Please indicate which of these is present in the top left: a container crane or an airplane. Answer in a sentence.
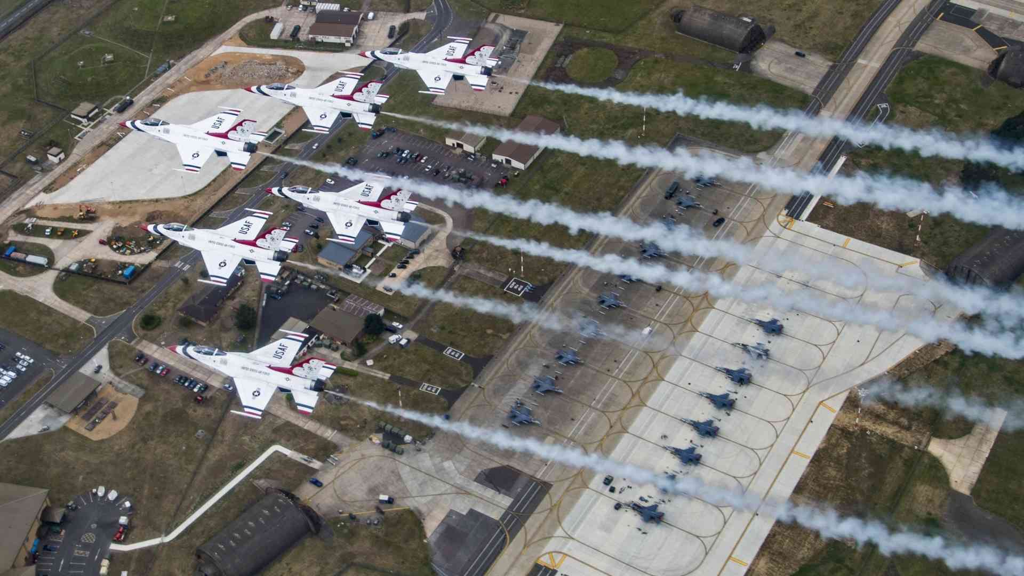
You can see an airplane in the top left.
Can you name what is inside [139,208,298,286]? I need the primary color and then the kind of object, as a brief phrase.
white airplane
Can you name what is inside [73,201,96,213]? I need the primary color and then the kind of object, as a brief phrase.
red vehicle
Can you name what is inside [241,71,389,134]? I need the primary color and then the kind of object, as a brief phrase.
white airplane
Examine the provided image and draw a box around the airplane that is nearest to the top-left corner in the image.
[118,107,267,174]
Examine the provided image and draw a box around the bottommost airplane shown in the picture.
[626,503,666,526]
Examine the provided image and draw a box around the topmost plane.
[358,37,498,96]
